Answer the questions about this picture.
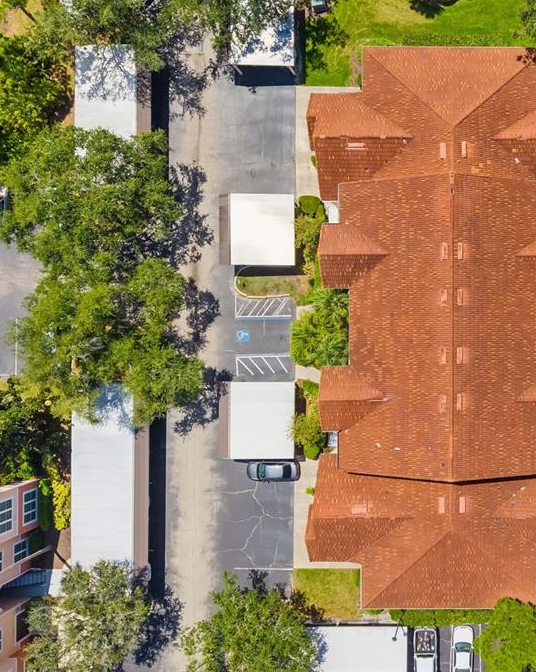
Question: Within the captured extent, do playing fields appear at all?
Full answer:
No, I find no playing field anywhere in the image.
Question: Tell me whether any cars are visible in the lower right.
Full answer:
Yes, a car shows up in the lower right.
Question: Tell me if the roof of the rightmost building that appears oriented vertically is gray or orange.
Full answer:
In this view, the roof of the rightmost building that appears oriented vertically is orange.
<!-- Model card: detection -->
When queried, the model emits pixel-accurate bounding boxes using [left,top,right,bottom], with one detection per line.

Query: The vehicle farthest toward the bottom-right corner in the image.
[451,624,473,672]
